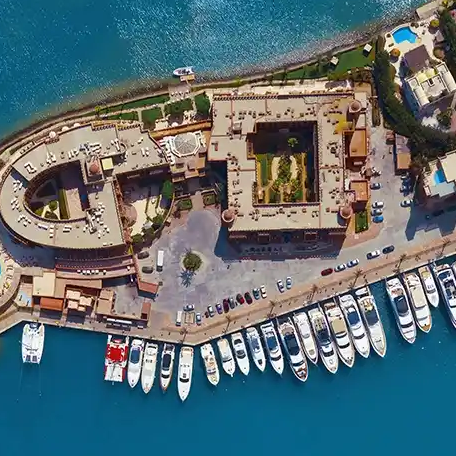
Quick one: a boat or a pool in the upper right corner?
pool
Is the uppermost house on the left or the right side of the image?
right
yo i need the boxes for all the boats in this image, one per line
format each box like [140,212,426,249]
[247,327,265,373]
[262,322,283,375]
[128,338,144,388]
[105,337,127,384]
[337,292,368,358]
[160,344,175,392]
[386,274,415,344]
[177,346,194,402]
[356,288,386,358]
[433,262,456,325]
[200,343,219,386]
[217,337,235,376]
[174,69,195,79]
[308,306,336,373]
[141,341,158,394]
[293,311,318,365]
[402,271,430,333]
[231,332,249,376]
[21,324,43,366]
[418,267,438,308]
[276,317,308,381]
[322,300,352,367]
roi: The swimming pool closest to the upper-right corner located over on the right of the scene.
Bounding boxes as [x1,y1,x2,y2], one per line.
[391,25,420,46]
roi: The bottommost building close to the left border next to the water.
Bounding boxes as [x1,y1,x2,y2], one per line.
[20,267,141,325]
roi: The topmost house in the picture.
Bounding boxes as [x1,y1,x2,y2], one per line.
[401,62,456,120]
